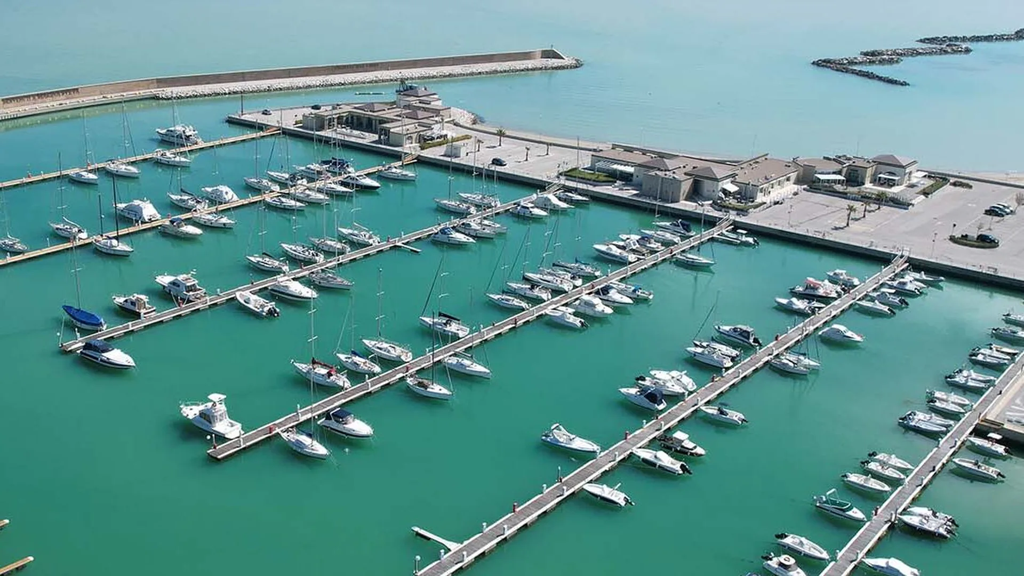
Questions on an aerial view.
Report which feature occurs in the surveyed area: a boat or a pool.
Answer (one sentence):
The image shows a boat.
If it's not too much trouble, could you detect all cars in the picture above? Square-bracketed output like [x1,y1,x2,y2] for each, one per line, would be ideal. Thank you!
[993,201,1017,214]
[489,154,509,164]
[976,231,1003,243]
[307,102,324,110]
[984,206,1010,218]
[258,106,274,114]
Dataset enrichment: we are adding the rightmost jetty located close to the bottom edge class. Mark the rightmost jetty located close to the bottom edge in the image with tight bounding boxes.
[807,352,1024,576]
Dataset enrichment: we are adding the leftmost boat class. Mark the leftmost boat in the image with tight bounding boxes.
[0,180,32,253]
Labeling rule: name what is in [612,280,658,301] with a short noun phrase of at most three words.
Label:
boat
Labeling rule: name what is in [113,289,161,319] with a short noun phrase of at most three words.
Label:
boat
